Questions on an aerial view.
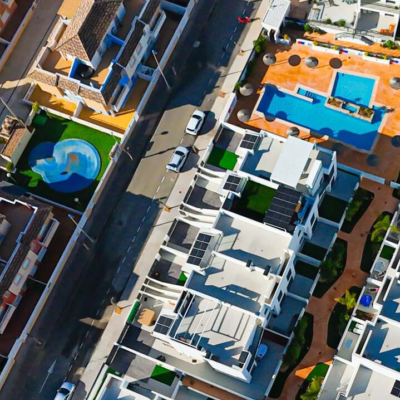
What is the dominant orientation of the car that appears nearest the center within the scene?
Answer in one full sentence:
In this picture, the car that appears nearest the center is oriented at an angle.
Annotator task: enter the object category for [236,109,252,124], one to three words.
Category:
umbrella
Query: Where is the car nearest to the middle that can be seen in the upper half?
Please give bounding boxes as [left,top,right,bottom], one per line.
[164,145,191,173]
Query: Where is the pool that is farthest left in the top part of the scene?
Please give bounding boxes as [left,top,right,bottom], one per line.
[29,134,98,186]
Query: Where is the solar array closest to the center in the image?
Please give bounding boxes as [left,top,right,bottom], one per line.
[219,174,238,196]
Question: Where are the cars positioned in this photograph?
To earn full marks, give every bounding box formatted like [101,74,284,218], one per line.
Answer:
[52,381,77,400]
[164,145,191,173]
[184,109,206,137]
